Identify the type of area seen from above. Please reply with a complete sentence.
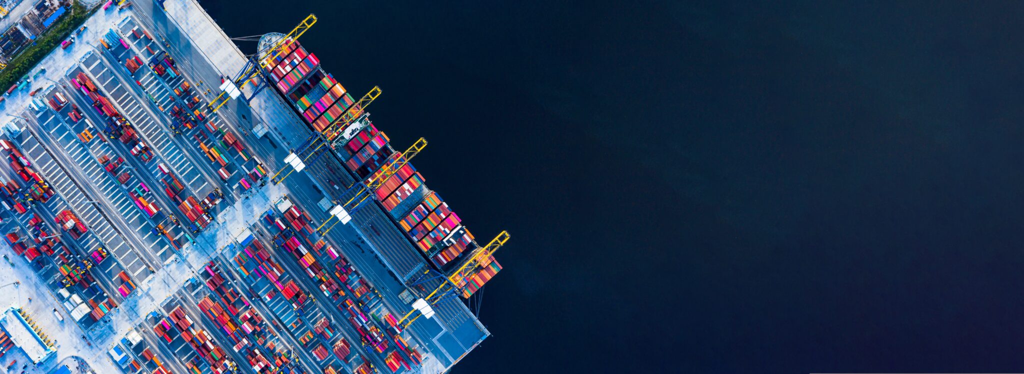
This image shows a port.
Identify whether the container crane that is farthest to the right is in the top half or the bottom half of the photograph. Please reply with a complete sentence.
It is in the bottom half that the container crane that is farthest to the right appears.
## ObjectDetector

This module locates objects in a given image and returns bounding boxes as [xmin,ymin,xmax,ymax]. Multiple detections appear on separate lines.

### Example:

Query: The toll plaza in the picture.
[0,305,57,366]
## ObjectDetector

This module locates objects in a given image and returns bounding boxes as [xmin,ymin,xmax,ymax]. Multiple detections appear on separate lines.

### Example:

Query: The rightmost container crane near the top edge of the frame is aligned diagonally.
[205,12,319,113]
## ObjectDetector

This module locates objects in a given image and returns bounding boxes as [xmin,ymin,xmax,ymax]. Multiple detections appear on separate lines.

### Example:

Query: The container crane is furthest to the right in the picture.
[398,230,511,332]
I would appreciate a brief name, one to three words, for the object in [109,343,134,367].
building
